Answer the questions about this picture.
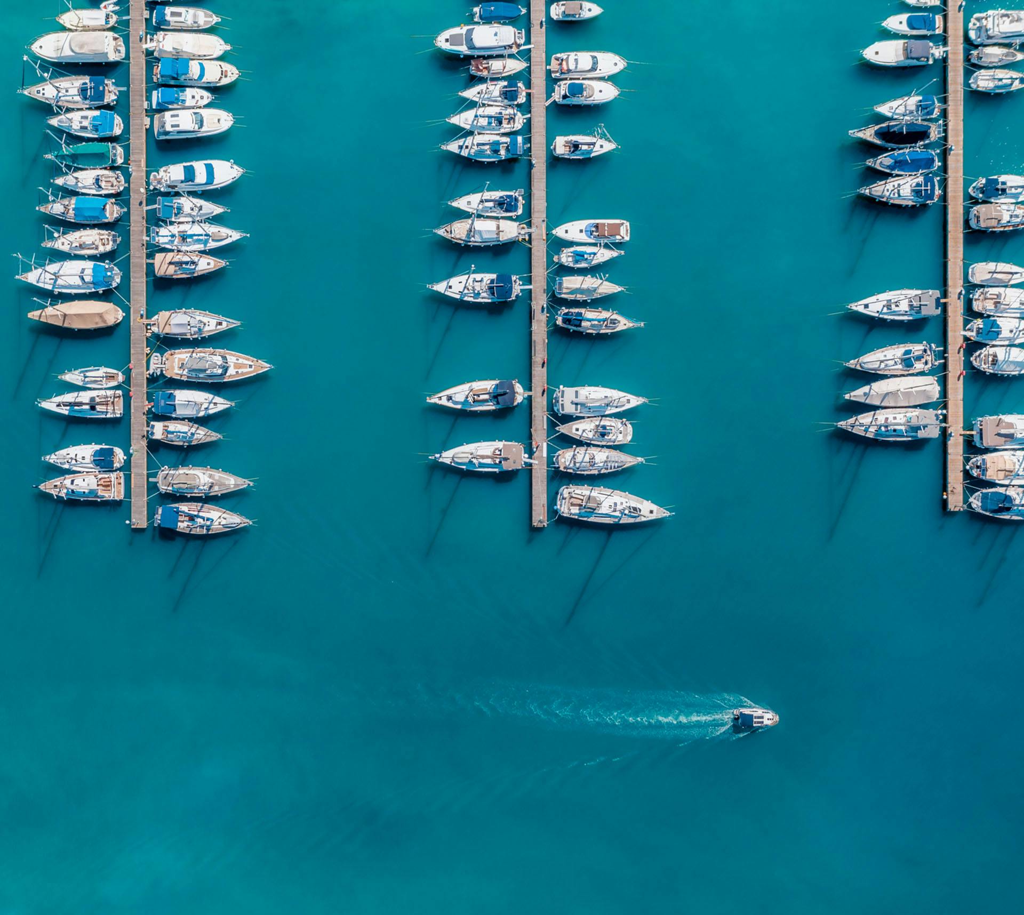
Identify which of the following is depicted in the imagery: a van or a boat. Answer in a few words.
boat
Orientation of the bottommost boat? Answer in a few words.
from side to side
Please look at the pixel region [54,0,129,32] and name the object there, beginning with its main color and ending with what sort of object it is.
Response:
white boat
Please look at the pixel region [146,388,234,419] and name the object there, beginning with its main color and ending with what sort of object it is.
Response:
white boat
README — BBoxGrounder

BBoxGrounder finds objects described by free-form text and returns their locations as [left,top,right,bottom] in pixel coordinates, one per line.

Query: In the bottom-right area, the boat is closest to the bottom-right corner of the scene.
[732,708,781,728]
